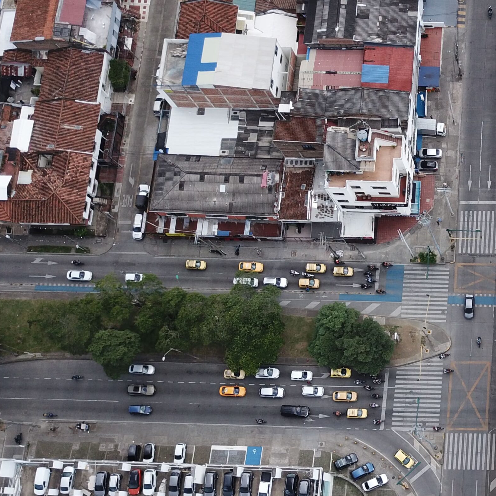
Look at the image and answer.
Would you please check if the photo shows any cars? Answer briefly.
Yes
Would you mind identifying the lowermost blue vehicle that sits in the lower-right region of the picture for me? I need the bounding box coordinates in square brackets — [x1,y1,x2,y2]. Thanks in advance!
[348,461,377,483]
